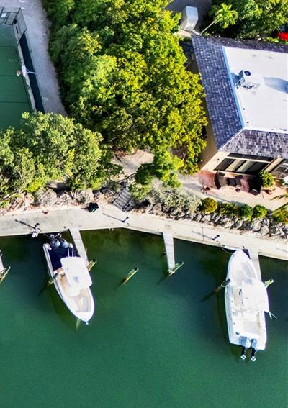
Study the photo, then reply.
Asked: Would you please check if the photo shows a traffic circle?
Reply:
No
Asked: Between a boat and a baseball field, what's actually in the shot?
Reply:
boat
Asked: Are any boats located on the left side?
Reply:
Yes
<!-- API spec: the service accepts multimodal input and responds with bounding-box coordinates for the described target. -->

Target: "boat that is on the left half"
[45,238,93,323]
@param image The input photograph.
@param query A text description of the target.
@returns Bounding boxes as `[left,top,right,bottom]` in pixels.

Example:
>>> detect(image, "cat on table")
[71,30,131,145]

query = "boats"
[45,238,93,323]
[220,250,277,363]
